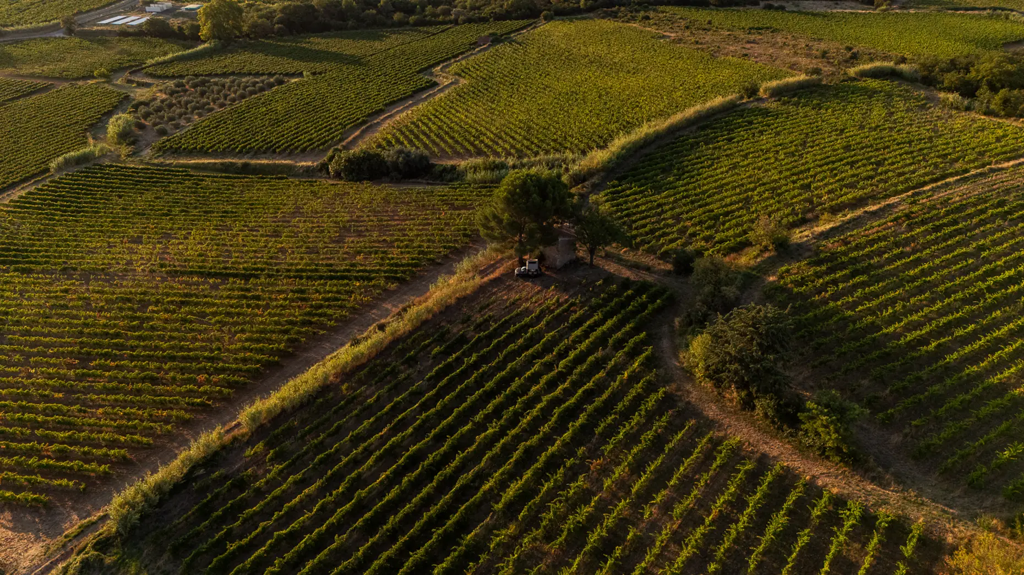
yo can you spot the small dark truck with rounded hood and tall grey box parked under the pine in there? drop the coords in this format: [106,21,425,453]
[514,258,542,278]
